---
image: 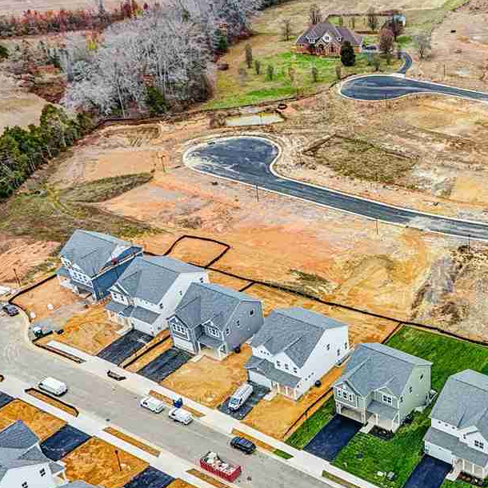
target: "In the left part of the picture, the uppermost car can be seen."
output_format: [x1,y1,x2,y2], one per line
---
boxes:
[0,302,19,316]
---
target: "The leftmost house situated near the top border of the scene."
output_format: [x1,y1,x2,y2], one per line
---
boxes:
[295,21,365,54]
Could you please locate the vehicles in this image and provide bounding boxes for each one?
[35,375,66,397]
[163,403,196,426]
[135,392,168,415]
[227,437,257,457]
[0,302,19,316]
[223,383,255,413]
